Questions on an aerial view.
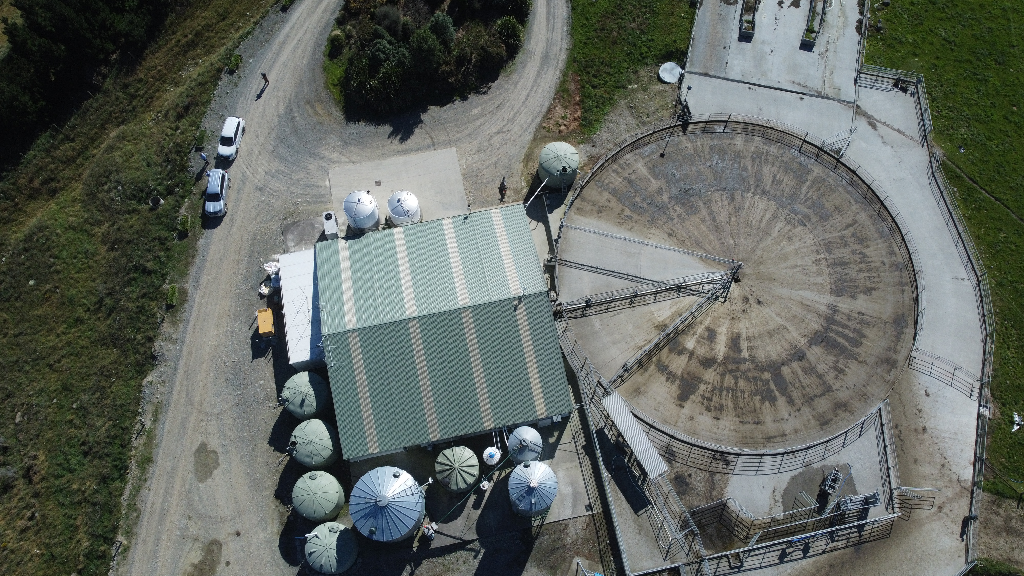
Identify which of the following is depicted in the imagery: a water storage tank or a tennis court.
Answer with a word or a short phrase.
water storage tank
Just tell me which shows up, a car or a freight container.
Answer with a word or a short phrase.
car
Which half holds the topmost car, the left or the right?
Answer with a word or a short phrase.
left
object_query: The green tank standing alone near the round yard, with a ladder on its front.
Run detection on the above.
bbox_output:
[527,142,582,205]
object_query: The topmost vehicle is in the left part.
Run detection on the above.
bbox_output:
[215,117,246,163]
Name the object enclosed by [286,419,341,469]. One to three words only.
water tank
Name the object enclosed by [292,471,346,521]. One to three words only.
water tank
